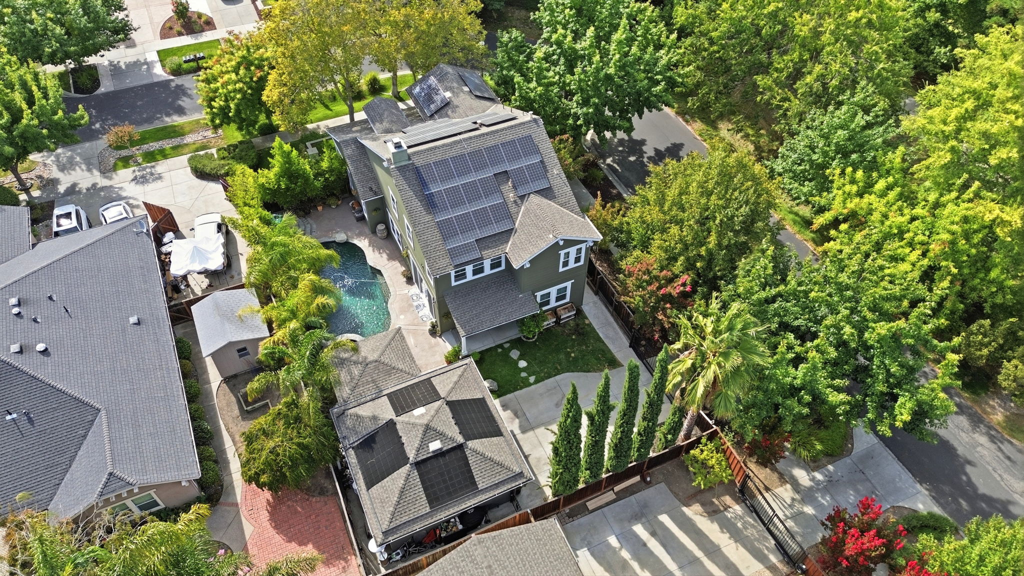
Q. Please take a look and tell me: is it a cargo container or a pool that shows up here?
pool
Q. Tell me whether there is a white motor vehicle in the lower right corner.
No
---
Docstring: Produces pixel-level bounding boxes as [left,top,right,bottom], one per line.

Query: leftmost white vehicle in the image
[52,204,88,238]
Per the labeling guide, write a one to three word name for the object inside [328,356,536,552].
building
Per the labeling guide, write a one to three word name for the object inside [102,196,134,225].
car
